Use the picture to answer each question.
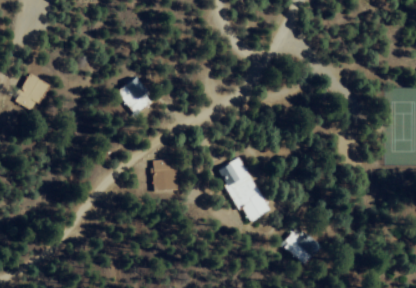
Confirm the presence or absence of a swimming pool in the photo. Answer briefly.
No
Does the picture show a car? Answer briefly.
No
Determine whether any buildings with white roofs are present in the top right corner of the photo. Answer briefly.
No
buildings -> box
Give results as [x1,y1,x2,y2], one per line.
[151,160,178,193]
[282,231,319,264]
[220,158,270,220]
[15,74,50,110]
[119,78,152,112]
